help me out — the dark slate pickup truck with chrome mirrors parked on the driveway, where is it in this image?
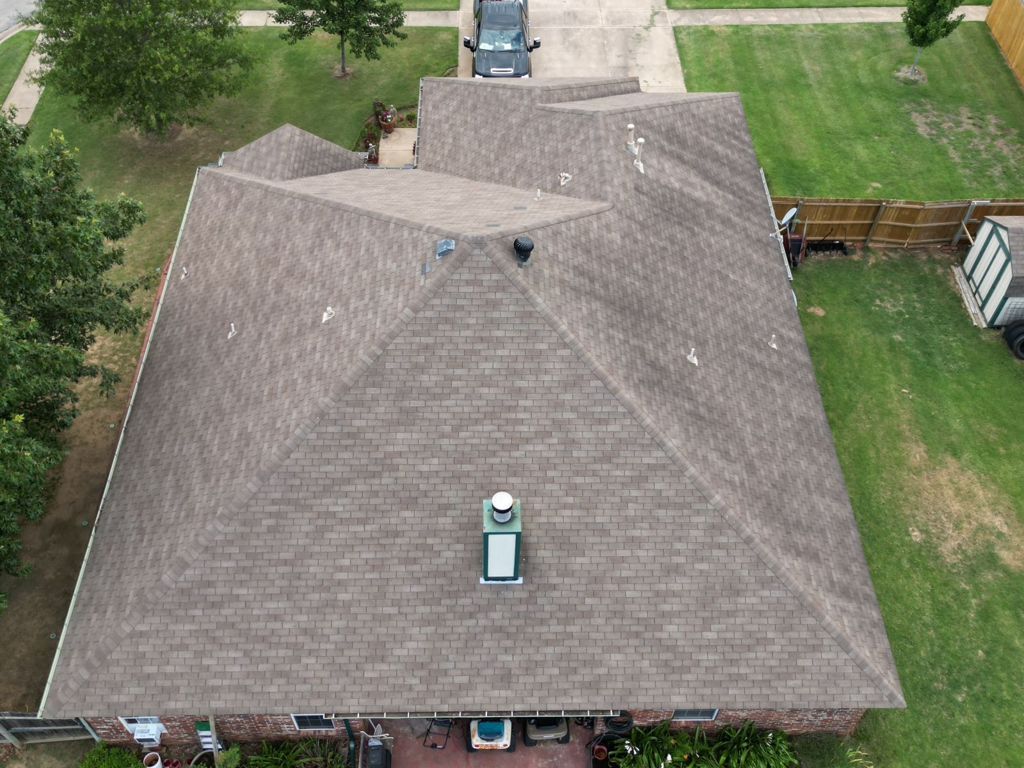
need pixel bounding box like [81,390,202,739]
[463,0,541,78]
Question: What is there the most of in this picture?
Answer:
buildings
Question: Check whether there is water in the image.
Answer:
No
